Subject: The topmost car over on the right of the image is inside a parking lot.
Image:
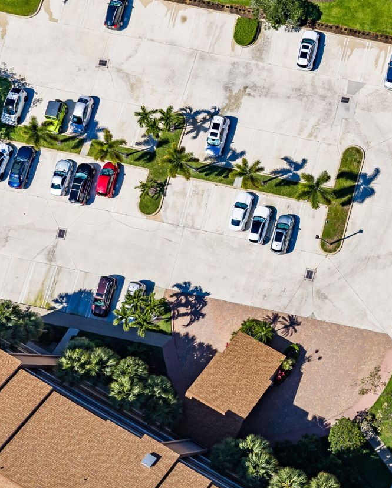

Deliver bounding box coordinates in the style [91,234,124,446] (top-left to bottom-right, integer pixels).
[296,30,319,71]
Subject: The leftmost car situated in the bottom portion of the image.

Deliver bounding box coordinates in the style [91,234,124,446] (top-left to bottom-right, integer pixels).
[91,276,118,317]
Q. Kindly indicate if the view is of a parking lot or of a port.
parking lot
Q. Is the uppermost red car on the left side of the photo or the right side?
left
